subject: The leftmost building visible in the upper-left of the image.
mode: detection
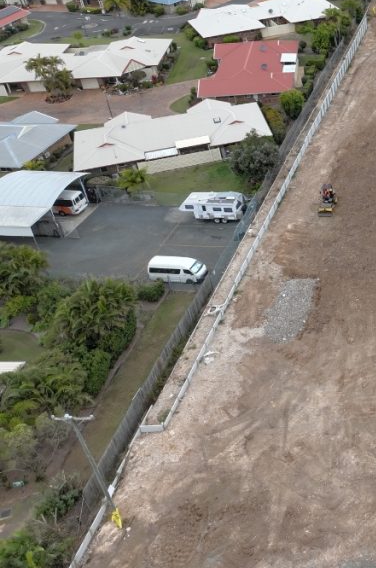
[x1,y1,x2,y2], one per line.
[0,4,30,32]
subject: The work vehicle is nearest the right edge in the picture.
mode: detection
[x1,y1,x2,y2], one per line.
[312,185,338,214]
